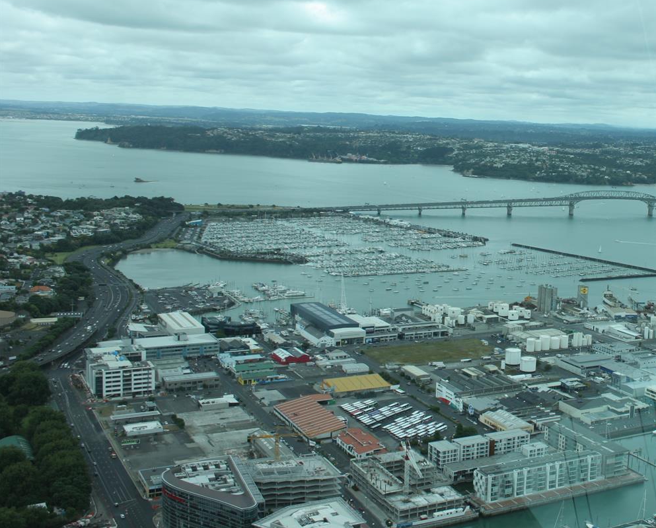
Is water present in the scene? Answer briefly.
Yes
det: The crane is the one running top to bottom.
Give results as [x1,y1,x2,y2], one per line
[402,441,424,493]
